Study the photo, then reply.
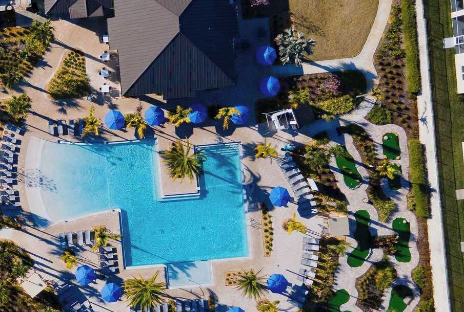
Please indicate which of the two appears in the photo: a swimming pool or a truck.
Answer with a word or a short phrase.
swimming pool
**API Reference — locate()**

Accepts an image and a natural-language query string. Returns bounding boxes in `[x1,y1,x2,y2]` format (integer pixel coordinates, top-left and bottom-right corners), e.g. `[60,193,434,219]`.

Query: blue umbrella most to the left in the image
[75,266,95,285]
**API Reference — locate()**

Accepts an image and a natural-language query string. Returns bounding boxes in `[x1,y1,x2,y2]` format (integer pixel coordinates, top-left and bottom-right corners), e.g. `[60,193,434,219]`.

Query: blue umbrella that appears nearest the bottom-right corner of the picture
[266,272,286,292]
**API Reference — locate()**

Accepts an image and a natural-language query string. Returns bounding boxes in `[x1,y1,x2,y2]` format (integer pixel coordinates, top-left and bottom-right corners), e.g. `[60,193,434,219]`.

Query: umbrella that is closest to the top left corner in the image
[102,109,124,130]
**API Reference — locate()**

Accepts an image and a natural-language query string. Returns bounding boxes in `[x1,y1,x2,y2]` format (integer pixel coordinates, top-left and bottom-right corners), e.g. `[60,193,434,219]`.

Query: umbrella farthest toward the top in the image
[256,44,276,66]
